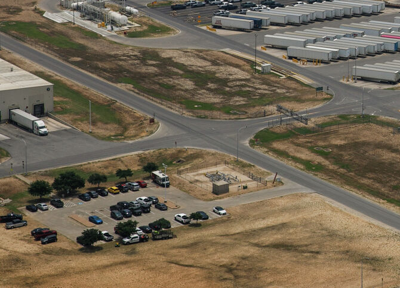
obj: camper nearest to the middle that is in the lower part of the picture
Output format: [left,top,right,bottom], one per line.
[149,166,170,184]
